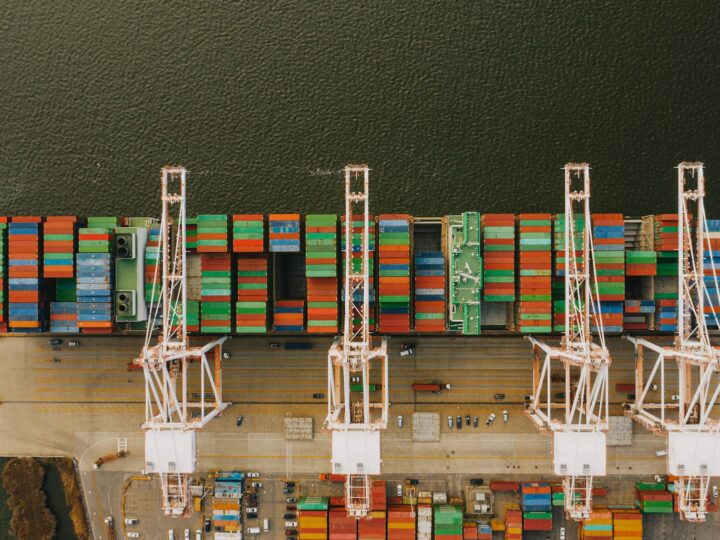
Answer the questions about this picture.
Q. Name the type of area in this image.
port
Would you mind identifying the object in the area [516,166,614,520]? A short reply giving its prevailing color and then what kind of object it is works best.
white container crane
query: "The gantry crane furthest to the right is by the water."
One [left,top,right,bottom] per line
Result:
[615,166,720,520]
